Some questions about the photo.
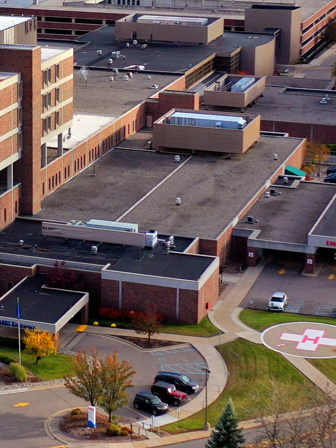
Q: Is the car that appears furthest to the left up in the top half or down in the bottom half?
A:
bottom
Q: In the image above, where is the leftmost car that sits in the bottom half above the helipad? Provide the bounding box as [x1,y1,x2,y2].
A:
[270,288,289,309]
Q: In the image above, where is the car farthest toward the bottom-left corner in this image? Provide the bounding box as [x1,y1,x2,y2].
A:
[130,389,170,416]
